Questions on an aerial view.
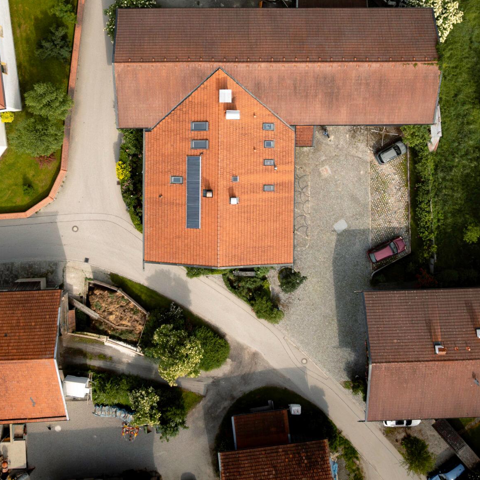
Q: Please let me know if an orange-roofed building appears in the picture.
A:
Yes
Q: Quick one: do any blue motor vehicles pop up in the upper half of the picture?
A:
No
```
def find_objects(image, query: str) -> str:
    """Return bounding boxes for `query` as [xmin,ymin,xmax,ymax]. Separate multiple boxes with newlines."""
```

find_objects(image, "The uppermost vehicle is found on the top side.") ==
[371,139,410,167]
